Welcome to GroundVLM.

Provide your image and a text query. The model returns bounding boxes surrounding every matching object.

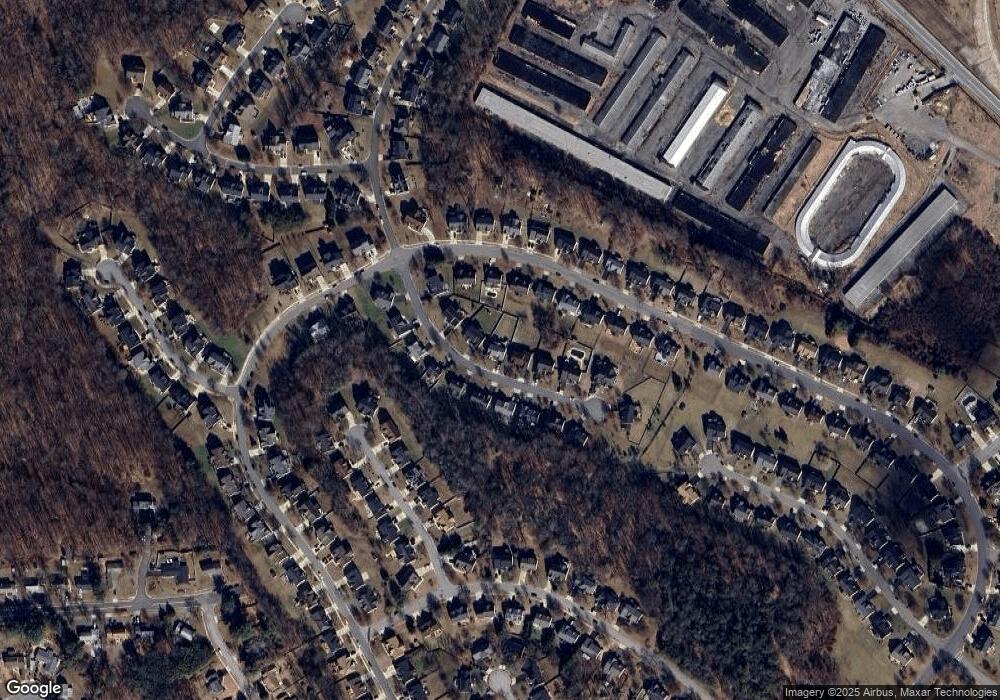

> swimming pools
[569,348,586,360]
[960,392,978,407]
[485,290,498,299]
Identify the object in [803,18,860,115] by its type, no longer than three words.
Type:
barn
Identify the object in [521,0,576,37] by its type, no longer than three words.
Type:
barn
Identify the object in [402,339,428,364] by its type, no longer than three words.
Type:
house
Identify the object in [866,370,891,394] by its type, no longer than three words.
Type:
house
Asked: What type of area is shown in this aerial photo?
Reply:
residential area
